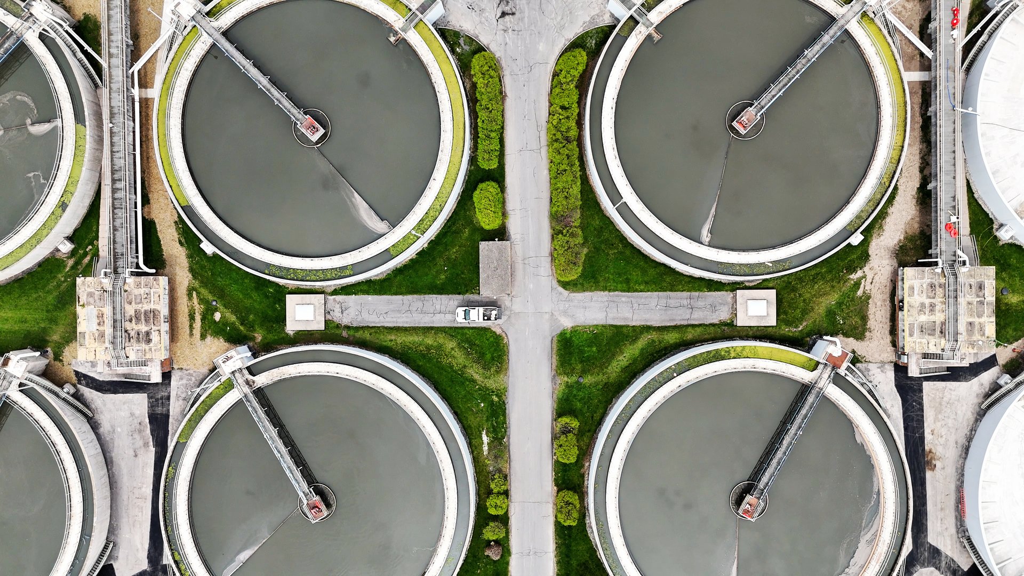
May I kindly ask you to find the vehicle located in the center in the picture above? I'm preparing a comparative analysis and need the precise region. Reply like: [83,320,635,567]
[456,306,501,323]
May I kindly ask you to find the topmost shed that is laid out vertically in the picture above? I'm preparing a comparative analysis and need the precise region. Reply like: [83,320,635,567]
[480,237,510,299]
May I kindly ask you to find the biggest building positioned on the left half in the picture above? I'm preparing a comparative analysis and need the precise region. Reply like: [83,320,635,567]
[77,276,174,372]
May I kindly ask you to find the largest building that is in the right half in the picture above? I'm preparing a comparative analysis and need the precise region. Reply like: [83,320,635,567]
[895,266,995,366]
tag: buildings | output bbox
[77,276,174,372]
[480,237,510,299]
[895,266,995,366]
